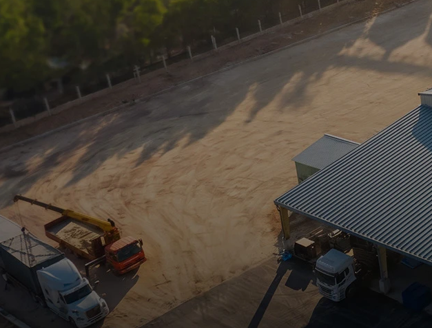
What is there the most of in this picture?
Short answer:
paved ground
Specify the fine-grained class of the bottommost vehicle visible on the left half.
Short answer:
truck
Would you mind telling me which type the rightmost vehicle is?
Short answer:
truck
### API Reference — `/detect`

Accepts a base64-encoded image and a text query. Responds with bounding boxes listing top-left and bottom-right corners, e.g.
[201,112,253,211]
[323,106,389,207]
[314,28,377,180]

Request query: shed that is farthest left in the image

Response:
[292,129,370,183]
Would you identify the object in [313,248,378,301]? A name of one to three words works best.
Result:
truck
